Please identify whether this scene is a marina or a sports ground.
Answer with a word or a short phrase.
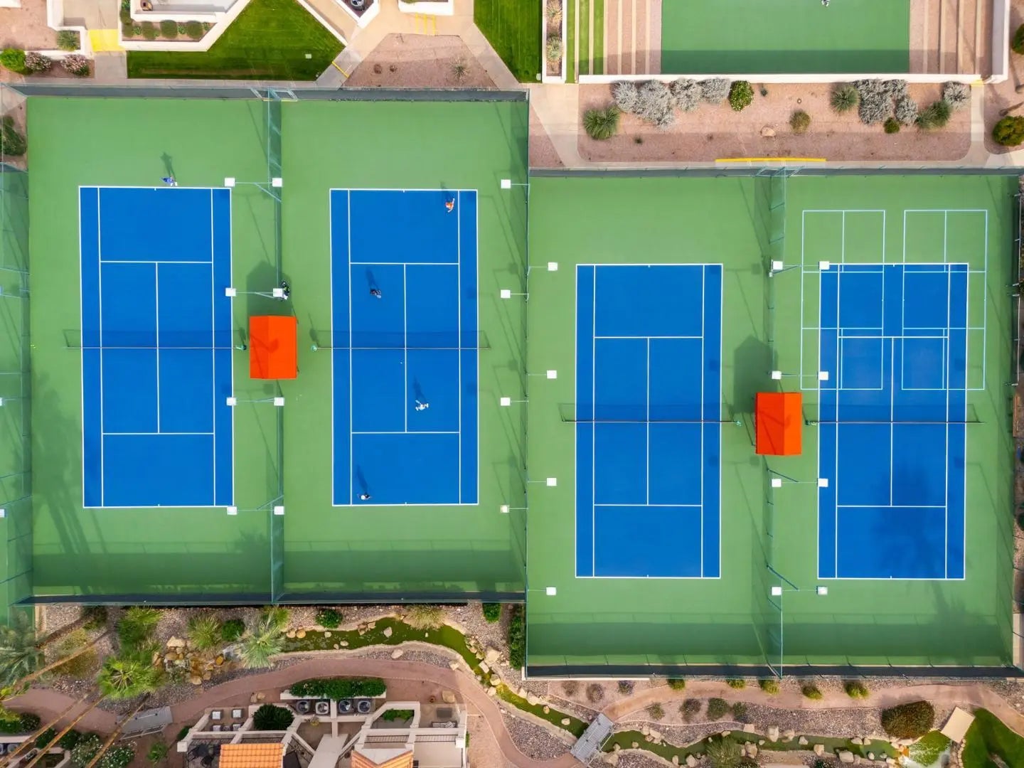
sports ground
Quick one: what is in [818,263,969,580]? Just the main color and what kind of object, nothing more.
blue tennis court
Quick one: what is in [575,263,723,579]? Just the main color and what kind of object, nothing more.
blue tennis court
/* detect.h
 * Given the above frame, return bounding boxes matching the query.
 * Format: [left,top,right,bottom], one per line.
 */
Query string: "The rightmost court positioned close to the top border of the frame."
[661,0,910,74]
